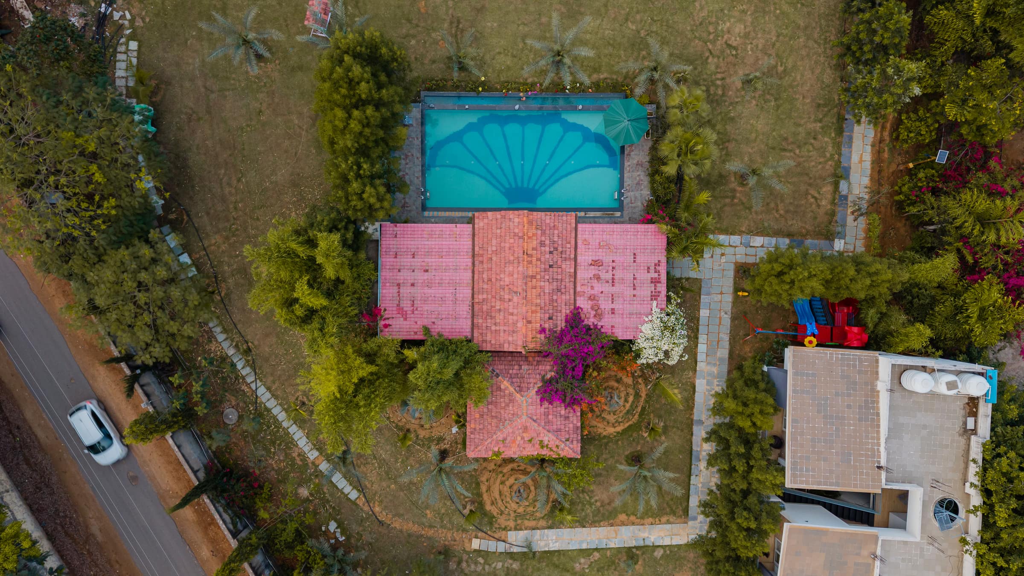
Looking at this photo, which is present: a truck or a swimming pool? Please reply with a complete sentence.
Visible in the photo is a swimming pool.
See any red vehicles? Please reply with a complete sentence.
No, the frame has no red vehicle in it.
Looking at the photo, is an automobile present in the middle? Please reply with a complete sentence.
No, I see no automobile in the middle.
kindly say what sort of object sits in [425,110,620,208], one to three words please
swimming pool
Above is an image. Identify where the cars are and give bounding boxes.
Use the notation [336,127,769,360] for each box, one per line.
[62,399,128,469]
